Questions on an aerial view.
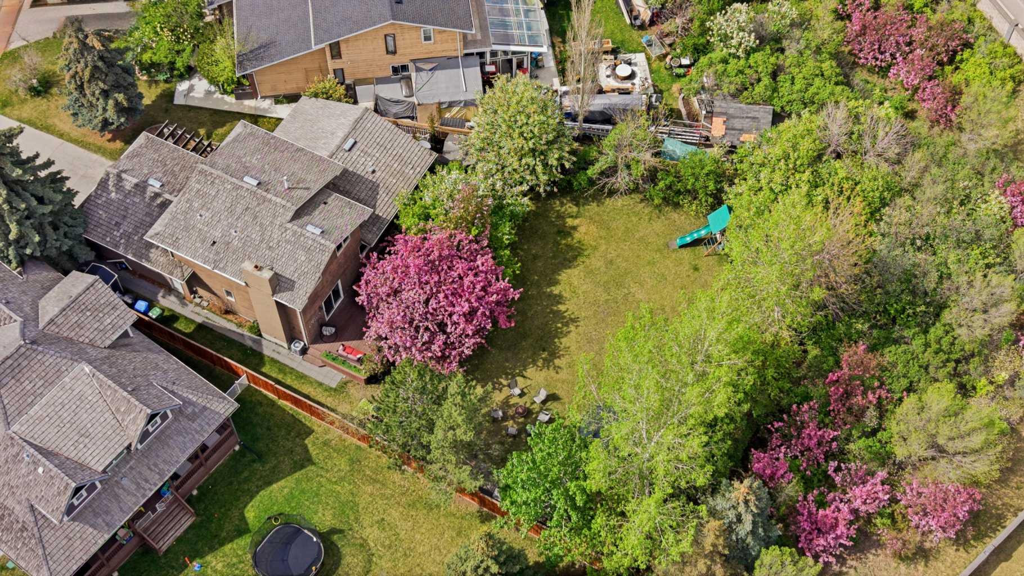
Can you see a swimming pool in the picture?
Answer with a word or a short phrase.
No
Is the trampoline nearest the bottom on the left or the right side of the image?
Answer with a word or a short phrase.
left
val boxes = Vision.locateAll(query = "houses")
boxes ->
[69,96,439,347]
[0,230,245,576]
[232,0,547,101]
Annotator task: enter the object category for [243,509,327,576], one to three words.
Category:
trampoline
